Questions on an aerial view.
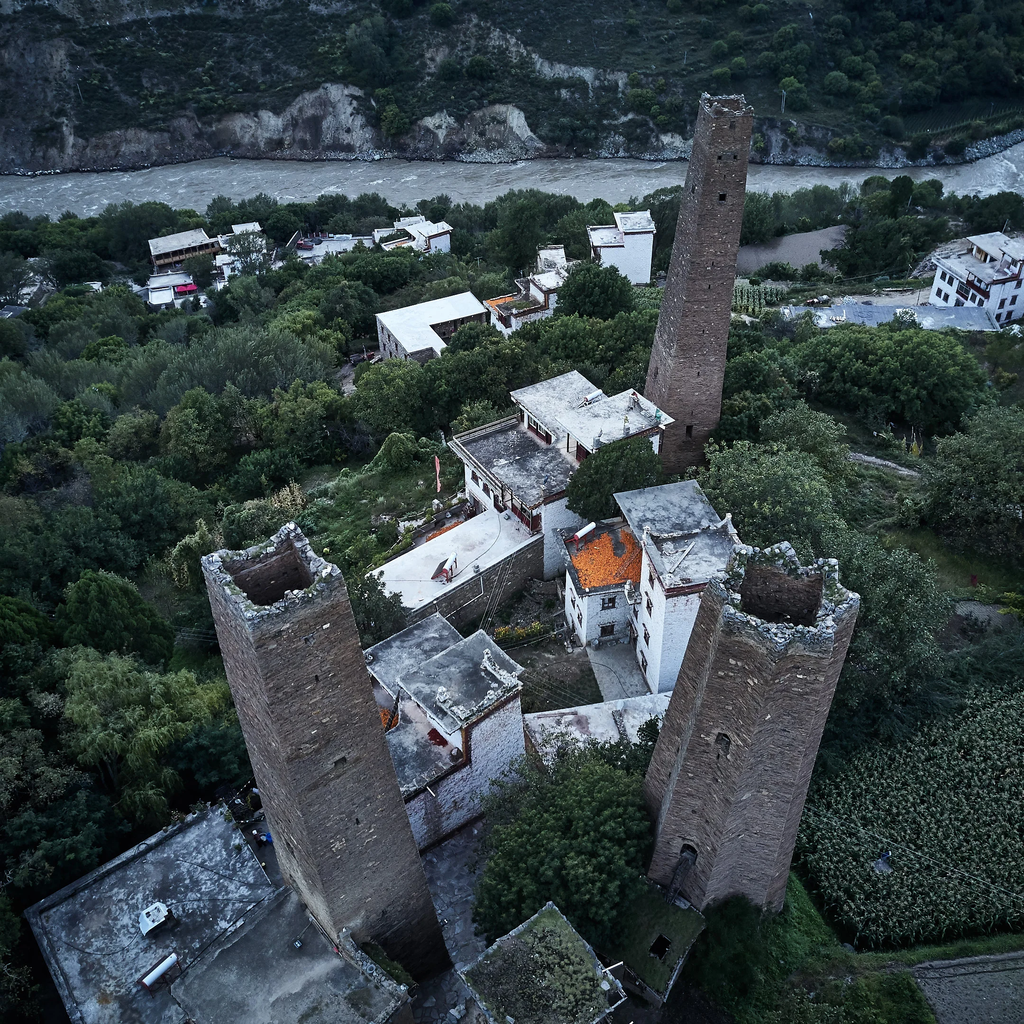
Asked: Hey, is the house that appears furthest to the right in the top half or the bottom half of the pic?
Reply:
top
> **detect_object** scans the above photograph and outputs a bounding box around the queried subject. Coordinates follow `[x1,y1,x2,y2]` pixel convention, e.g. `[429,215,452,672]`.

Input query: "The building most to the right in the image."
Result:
[928,219,1024,325]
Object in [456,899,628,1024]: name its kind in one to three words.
house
